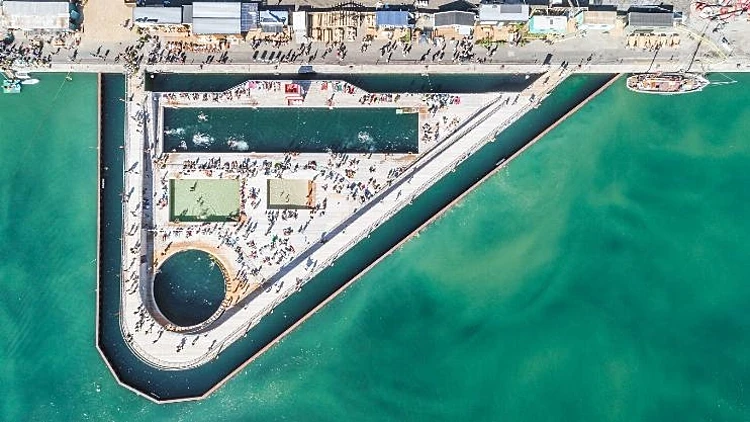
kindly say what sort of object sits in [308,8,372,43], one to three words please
building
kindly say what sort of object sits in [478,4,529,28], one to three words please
building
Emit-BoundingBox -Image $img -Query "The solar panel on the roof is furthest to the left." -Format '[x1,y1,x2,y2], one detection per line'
[242,3,256,31]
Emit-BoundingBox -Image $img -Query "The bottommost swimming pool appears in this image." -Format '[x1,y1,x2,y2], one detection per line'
[152,250,230,328]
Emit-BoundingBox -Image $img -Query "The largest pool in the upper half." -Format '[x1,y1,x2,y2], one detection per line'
[161,105,420,155]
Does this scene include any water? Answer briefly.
Yes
